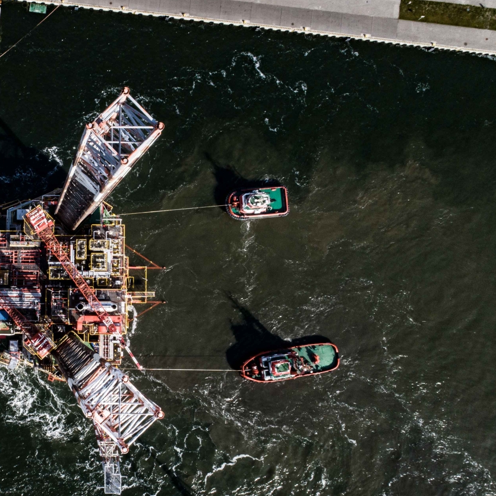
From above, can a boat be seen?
Yes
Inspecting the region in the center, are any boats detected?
Yes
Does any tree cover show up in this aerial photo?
No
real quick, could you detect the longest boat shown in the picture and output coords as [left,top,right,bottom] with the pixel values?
[240,342,340,379]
